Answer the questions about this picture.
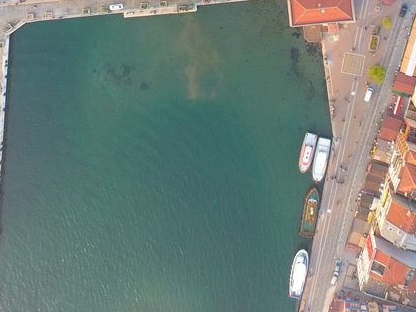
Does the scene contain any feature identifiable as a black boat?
No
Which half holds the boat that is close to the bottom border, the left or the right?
right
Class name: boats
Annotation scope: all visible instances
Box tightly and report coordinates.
[288,248,310,298]
[300,131,317,172]
[314,136,332,181]
[300,186,318,237]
